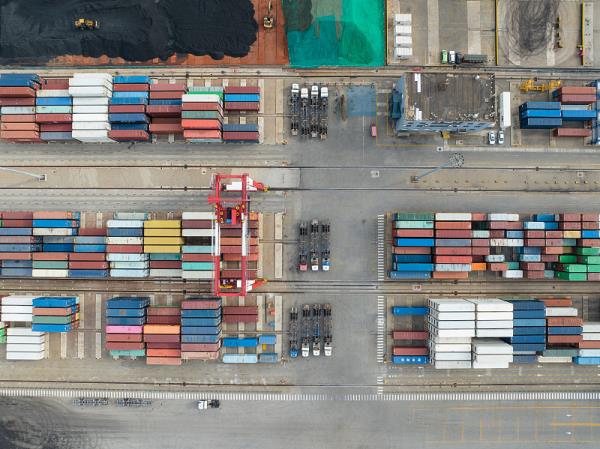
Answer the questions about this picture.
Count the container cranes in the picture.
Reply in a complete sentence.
In total, there is 1 container crane in the scene.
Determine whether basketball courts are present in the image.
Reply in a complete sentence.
No, no basketball court is visible in the view.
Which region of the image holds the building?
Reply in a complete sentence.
Look in the top right portion of the view to spot the building.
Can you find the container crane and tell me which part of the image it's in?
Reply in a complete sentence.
The container crane sits in the center section of the image.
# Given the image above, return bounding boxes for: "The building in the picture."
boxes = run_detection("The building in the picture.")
[386,73,497,138]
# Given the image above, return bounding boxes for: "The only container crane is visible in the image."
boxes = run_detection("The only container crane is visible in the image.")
[206,176,271,294]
